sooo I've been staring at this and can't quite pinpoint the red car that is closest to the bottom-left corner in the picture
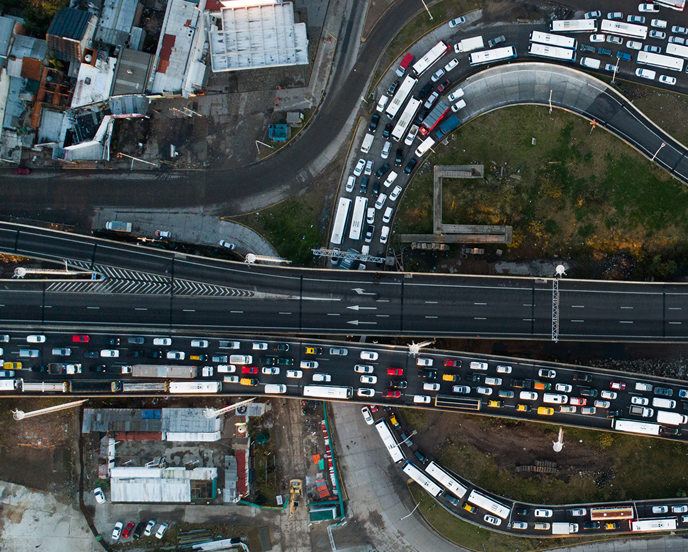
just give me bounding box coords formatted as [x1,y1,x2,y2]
[123,520,135,539]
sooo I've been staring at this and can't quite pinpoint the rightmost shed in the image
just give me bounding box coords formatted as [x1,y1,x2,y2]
[308,505,338,522]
